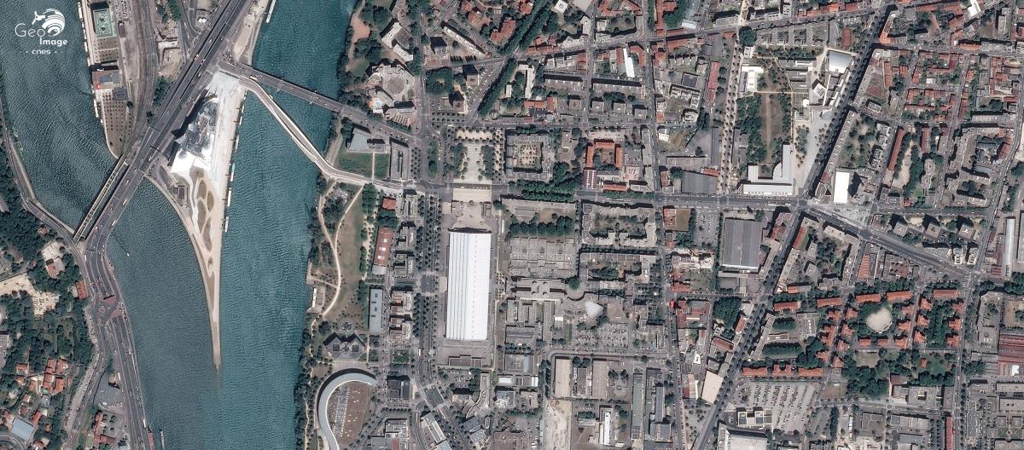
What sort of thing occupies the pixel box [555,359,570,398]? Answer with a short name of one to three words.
building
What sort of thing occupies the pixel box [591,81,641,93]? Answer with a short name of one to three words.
building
